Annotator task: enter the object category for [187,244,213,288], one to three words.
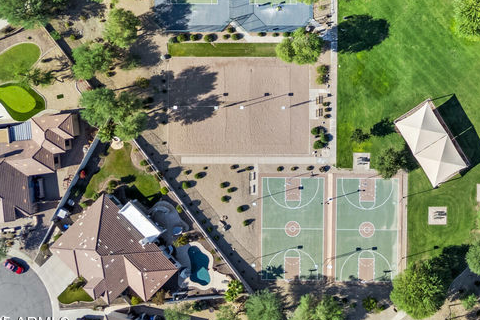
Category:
swimming pool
